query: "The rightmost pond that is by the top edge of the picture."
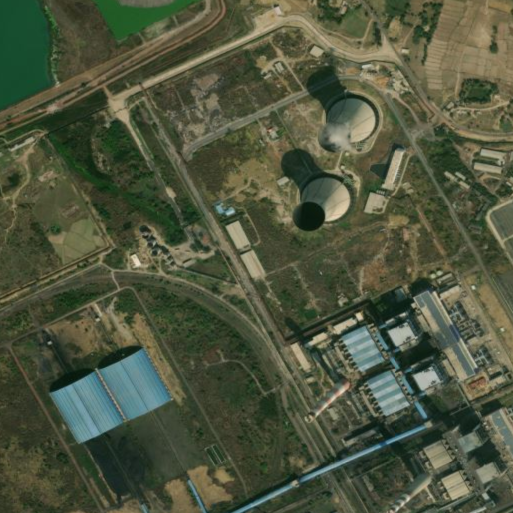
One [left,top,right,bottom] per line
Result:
[94,0,200,40]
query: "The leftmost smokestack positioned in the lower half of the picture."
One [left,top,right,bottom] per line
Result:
[307,379,350,425]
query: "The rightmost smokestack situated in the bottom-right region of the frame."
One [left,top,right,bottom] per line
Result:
[394,473,434,513]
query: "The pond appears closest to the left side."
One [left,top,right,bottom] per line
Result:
[0,0,54,109]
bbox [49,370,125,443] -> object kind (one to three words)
shed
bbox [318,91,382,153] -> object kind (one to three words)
cooling tower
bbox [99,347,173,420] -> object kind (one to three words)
shed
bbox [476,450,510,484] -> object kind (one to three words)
building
